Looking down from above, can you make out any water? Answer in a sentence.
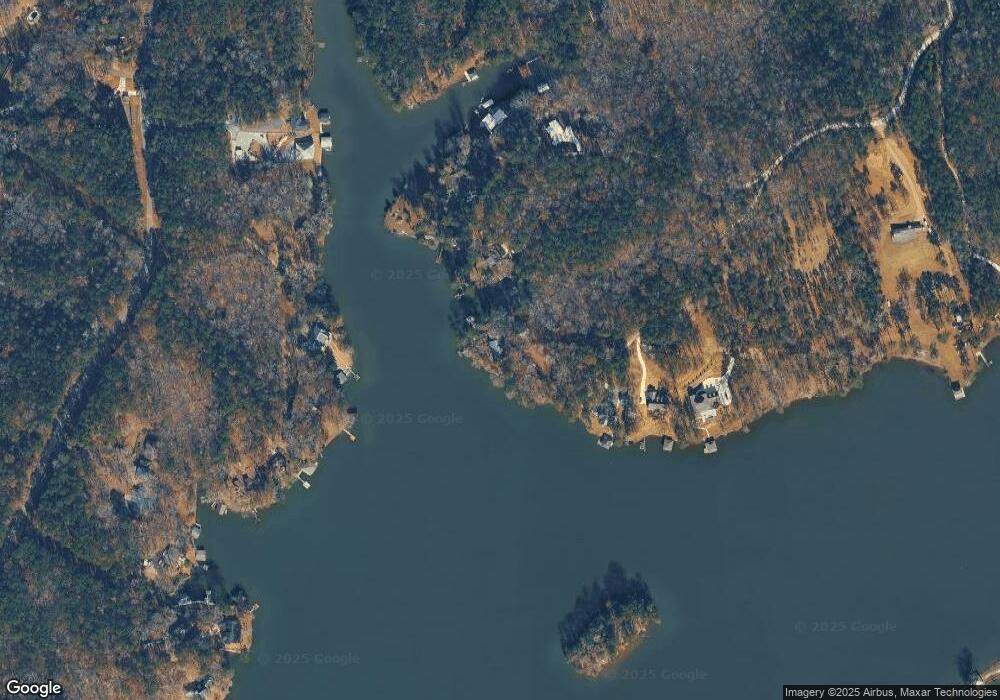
Yes, there is water in the image.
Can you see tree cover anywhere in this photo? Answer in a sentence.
Yes, tree cover can be seen from above here.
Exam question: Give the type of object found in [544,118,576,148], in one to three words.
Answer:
house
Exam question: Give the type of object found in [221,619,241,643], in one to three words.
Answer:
house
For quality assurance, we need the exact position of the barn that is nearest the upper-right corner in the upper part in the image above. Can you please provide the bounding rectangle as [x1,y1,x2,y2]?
[891,222,925,242]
